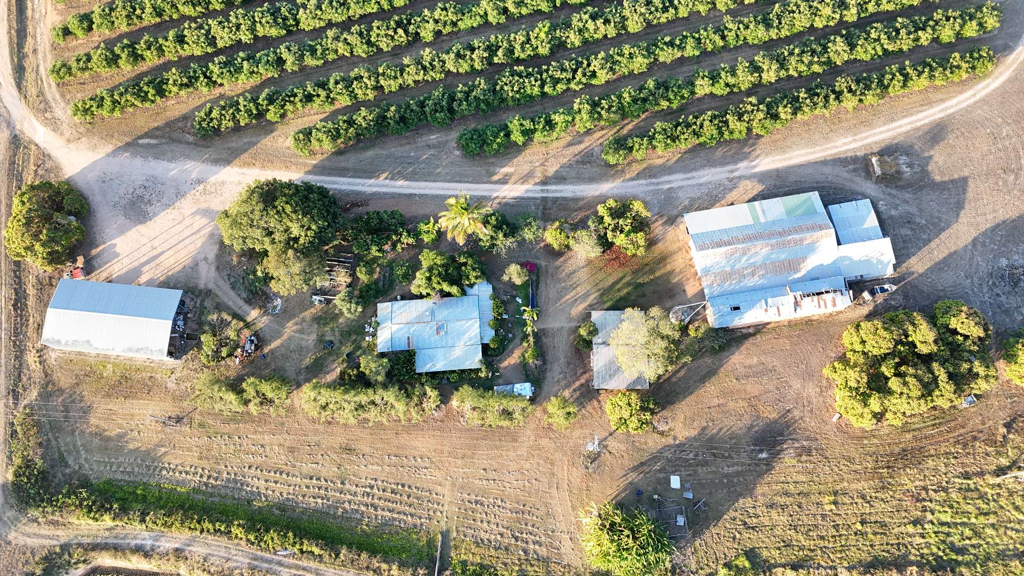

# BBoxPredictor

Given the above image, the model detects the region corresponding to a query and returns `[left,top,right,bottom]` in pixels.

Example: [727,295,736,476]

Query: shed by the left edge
[42,278,190,362]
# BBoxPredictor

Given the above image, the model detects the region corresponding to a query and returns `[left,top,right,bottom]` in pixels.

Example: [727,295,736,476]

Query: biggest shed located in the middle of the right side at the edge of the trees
[679,191,895,331]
